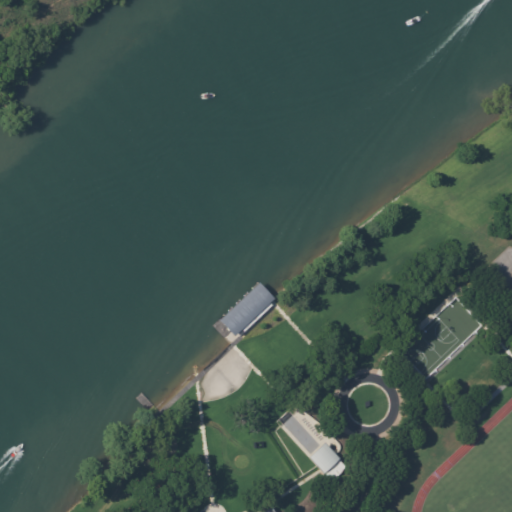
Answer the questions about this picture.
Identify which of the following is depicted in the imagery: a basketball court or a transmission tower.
basketball court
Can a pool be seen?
No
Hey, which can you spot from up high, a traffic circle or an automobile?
traffic circle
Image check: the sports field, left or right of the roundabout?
right of it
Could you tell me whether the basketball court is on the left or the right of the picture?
right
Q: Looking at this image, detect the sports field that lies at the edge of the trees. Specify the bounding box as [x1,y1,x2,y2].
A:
[422,410,512,512]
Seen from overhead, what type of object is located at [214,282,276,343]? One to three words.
building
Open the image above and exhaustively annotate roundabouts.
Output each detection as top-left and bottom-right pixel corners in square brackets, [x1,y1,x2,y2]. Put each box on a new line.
[340,373,399,432]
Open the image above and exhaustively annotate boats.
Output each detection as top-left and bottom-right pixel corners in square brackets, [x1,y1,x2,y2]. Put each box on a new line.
[200,93,216,100]
[404,16,421,26]
[12,448,22,460]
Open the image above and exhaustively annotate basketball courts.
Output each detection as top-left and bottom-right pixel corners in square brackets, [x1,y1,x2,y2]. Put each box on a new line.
[402,298,481,378]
